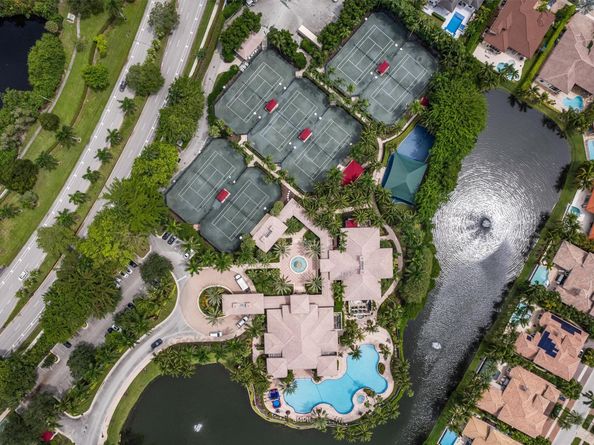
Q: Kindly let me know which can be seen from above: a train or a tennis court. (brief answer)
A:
tennis court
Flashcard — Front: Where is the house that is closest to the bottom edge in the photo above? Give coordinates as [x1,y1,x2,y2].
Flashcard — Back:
[462,416,513,445]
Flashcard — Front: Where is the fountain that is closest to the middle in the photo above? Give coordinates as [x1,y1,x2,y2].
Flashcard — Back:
[291,256,307,273]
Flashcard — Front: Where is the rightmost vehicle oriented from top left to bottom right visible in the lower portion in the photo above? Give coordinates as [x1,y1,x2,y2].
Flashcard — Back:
[234,274,249,292]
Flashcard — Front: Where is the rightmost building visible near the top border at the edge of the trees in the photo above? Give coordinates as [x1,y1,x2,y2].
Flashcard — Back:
[534,13,594,97]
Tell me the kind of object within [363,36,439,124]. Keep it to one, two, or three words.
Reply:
tennis court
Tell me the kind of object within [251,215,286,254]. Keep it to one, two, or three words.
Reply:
building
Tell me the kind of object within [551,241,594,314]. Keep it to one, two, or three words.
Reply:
house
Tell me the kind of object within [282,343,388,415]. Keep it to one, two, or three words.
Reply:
swimming pool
